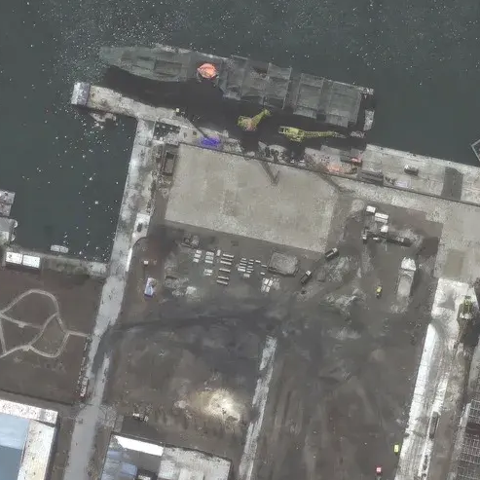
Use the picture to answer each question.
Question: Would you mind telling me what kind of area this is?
port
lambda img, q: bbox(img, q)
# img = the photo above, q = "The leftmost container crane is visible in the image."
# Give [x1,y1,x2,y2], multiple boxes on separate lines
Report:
[177,112,225,154]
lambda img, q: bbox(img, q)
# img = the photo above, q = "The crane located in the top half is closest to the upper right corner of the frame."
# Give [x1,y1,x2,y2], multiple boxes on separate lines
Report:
[270,128,348,156]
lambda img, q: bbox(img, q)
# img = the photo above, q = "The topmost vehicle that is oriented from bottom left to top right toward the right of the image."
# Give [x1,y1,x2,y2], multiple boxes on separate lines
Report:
[324,246,339,259]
